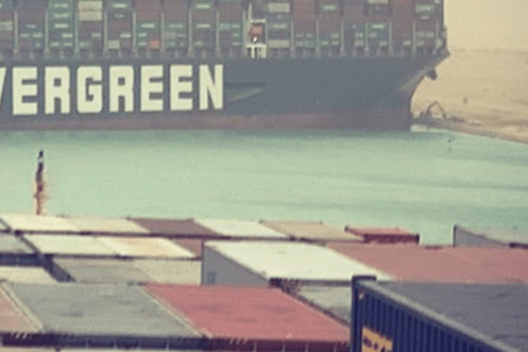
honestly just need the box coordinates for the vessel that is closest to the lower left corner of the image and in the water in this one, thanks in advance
[32,155,48,215]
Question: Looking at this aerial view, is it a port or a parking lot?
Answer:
port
